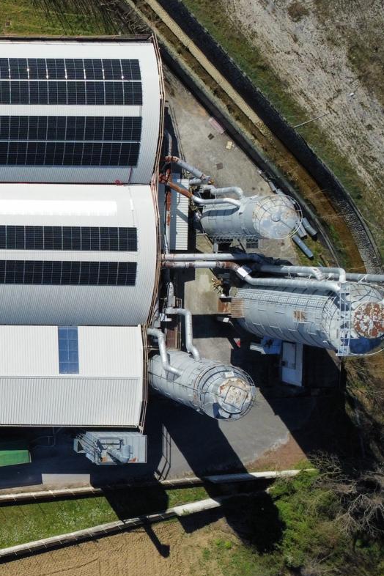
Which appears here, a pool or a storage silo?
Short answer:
storage silo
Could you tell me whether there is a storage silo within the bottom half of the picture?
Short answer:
Yes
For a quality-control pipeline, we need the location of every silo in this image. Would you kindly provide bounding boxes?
[222,277,384,356]
[152,353,259,423]
[203,191,309,244]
